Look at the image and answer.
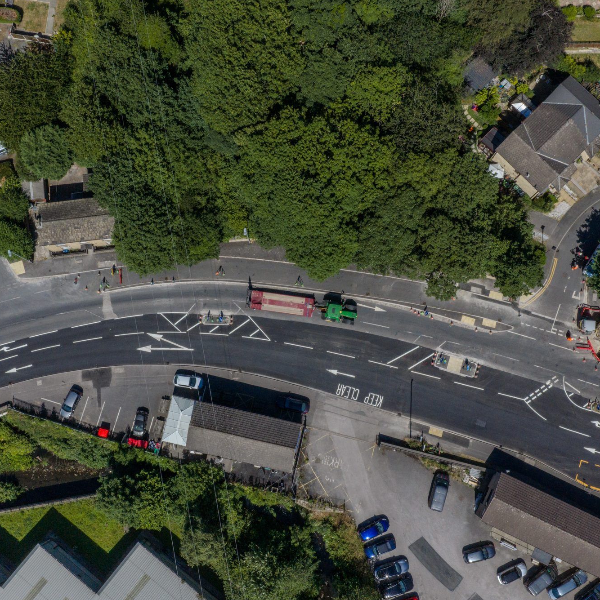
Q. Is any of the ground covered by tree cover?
Yes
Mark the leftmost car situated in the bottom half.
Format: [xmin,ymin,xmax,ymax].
[59,388,81,420]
